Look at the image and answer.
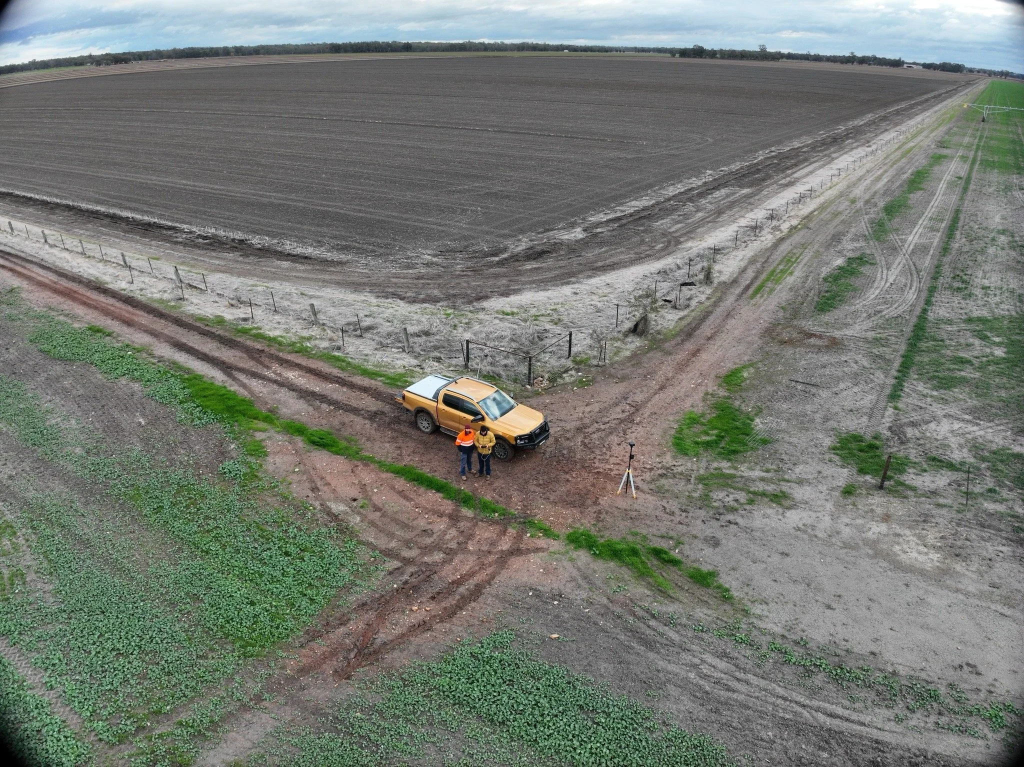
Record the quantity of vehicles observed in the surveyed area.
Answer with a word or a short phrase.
1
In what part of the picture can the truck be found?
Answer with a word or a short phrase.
center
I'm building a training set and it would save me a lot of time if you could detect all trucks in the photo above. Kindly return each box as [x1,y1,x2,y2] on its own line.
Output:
[394,374,553,462]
